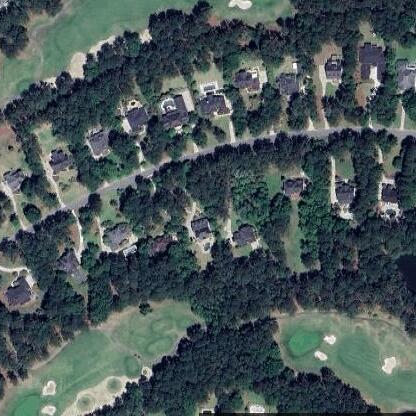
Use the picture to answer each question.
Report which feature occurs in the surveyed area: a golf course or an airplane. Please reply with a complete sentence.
I can see a golf course in this picture.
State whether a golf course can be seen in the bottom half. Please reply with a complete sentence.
Yes, looking in the bottom half, one can make out a golf course.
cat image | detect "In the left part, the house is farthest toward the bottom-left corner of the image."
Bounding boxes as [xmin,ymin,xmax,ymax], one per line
[5,279,33,307]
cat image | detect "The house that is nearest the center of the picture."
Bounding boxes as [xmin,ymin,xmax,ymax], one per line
[190,217,213,237]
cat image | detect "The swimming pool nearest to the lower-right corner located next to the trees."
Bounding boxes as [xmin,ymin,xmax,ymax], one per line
[378,205,400,219]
